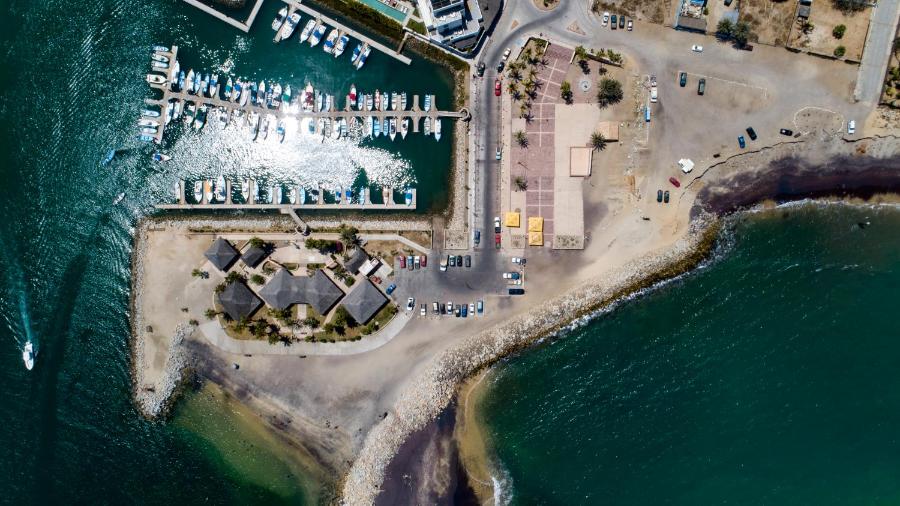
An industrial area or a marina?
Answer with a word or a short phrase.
marina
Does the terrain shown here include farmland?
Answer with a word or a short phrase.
No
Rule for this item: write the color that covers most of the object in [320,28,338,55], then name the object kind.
white boat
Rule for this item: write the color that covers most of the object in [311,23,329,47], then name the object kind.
white boat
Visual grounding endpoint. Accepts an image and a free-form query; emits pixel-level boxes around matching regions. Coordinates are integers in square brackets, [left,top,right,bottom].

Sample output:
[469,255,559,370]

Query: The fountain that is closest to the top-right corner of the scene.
[576,76,594,95]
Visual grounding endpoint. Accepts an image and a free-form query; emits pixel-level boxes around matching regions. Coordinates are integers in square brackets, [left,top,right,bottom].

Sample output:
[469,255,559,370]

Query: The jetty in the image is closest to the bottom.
[156,180,418,226]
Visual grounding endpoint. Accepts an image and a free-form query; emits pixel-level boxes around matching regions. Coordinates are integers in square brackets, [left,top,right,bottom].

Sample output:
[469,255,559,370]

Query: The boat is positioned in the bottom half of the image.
[17,338,33,370]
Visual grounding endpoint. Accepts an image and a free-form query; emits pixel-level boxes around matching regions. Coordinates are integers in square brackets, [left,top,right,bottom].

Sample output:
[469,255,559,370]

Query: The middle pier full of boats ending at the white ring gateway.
[148,47,461,143]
